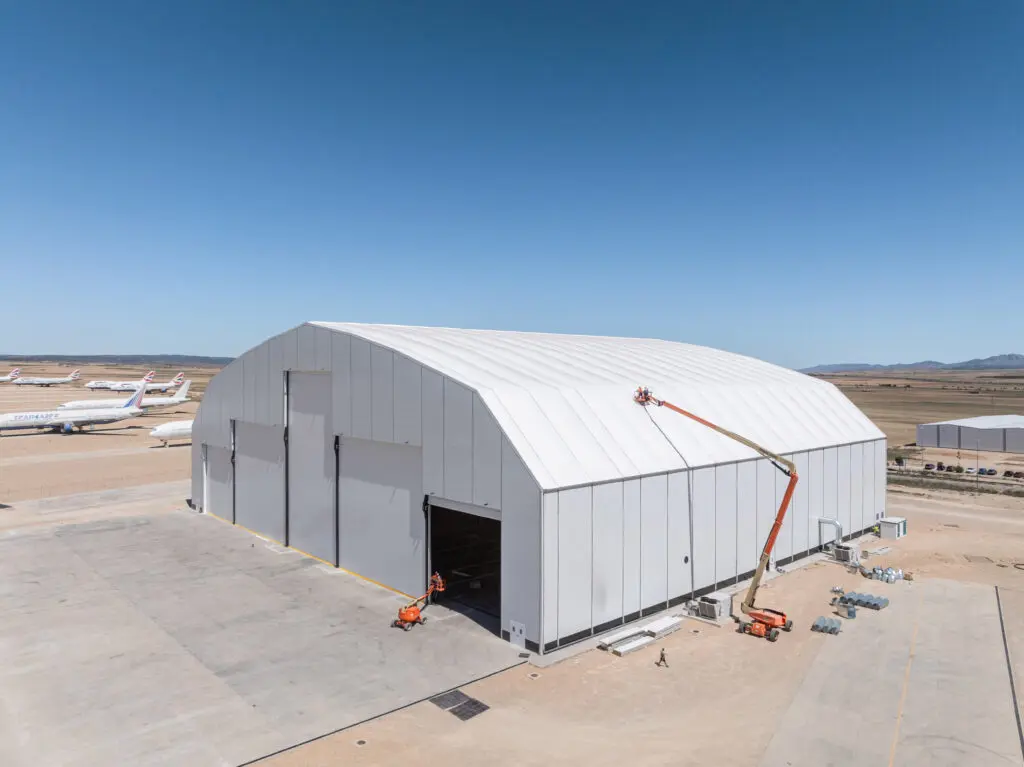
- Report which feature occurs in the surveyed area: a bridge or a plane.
plane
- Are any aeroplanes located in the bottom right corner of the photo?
No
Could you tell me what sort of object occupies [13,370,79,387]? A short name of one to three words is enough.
airplane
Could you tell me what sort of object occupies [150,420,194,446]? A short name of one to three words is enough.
airplane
